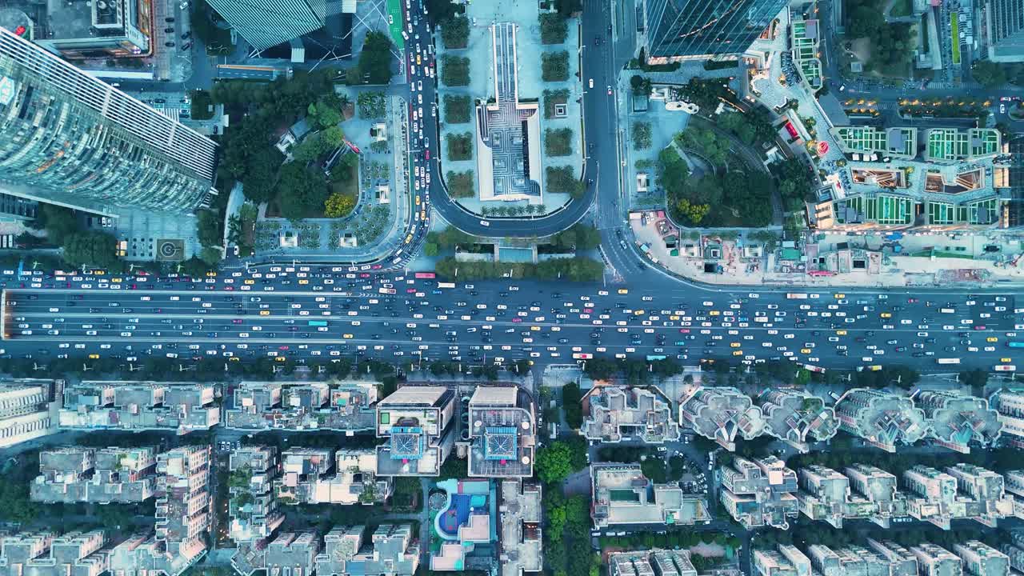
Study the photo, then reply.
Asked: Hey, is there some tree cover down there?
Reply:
Yes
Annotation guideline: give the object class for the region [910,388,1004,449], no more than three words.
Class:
building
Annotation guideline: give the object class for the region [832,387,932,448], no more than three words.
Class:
building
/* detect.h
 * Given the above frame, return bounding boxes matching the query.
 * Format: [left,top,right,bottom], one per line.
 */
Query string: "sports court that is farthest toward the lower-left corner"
[439,494,489,535]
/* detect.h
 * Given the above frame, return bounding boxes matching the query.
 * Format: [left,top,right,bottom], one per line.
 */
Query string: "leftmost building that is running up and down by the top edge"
[476,21,543,206]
